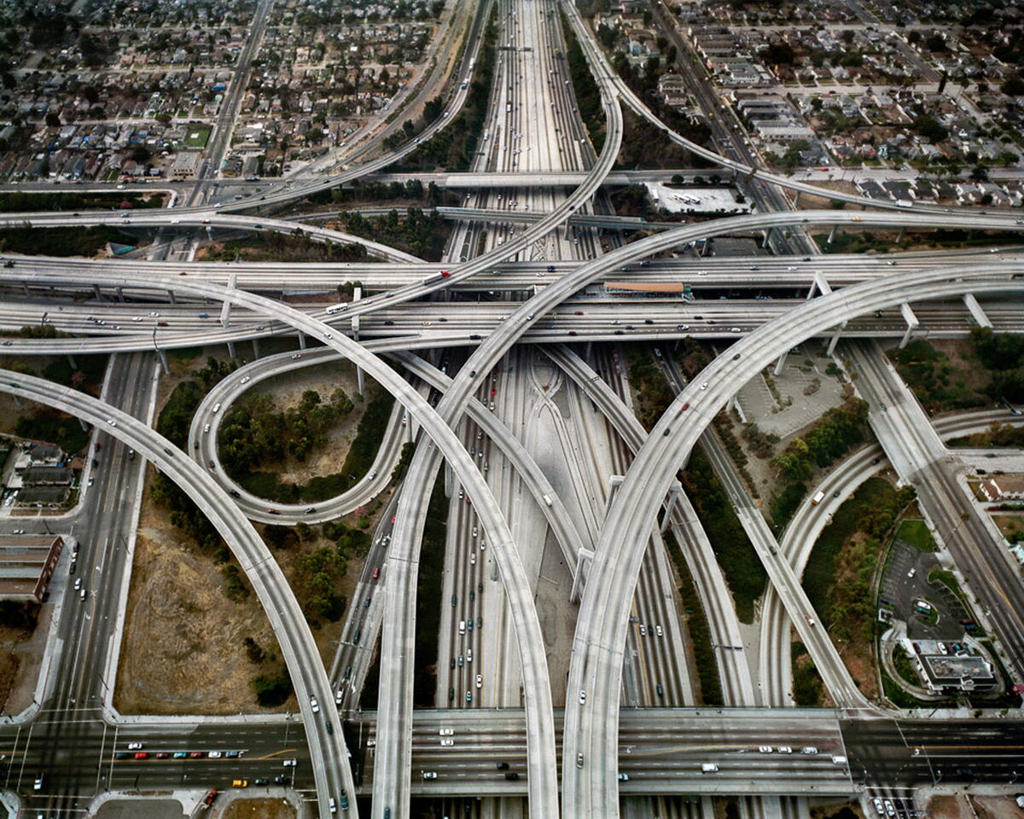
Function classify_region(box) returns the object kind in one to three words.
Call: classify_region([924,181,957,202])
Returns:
house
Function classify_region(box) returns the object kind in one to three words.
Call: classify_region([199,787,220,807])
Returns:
vehicle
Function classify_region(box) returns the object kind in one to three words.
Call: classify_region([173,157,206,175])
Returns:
building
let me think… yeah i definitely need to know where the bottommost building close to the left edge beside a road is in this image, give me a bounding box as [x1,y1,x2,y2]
[0,532,61,604]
